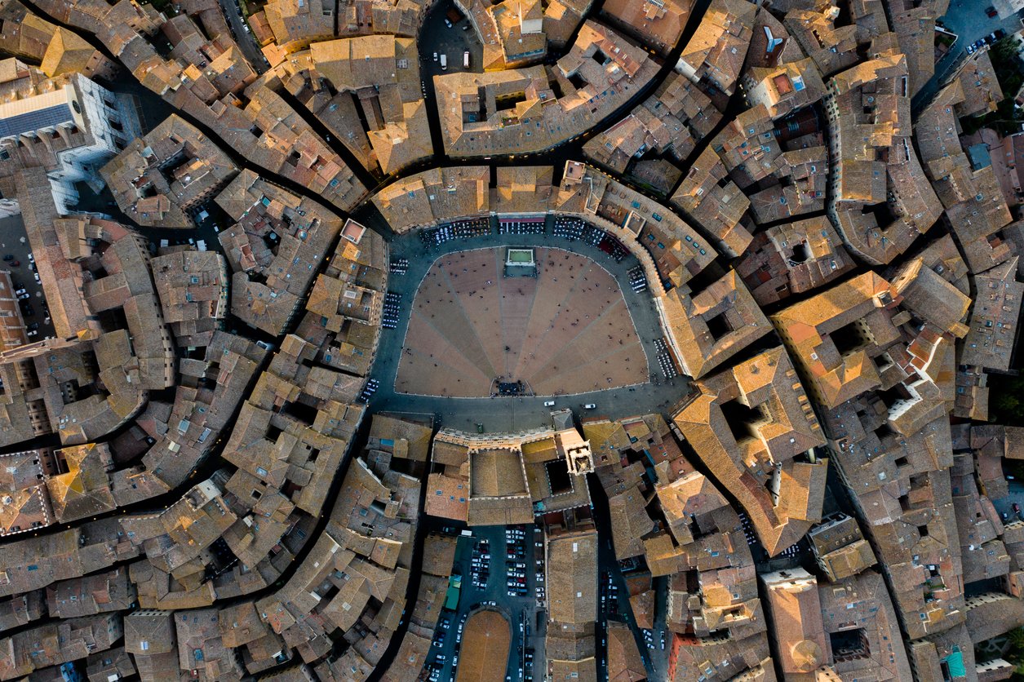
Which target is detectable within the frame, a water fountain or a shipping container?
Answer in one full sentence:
It is a water fountain that can be seen here.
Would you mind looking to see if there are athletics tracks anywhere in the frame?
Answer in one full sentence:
No, no athletics track is visible in the view.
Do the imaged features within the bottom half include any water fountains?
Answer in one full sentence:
No, I see no water fountain within the bottom half.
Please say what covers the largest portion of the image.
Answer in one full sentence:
The bulk of the photo consists of buildings.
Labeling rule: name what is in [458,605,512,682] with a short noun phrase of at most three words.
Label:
building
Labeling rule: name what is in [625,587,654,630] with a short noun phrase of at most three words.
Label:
house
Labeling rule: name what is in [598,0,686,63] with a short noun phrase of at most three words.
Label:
house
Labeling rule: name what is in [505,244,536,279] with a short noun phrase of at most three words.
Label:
fountain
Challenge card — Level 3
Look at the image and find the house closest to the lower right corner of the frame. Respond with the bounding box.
[975,653,1017,682]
